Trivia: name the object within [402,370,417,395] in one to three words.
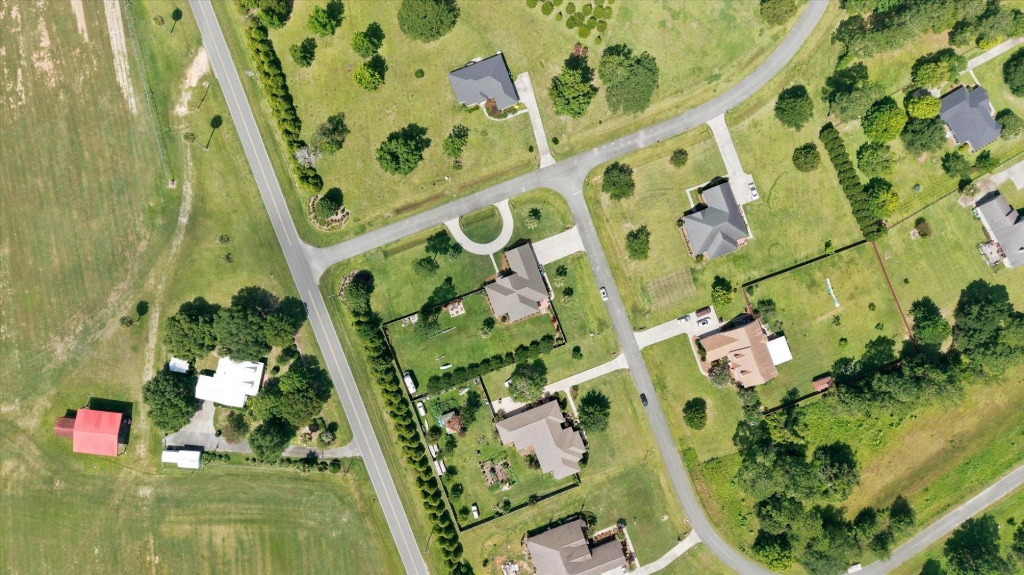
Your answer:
vehicle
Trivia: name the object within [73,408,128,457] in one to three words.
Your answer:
barn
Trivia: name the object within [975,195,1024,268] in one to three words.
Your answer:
house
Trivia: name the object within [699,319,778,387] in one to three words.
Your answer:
house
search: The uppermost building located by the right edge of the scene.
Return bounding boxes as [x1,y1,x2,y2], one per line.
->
[936,86,998,151]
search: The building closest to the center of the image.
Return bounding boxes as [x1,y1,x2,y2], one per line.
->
[485,243,548,322]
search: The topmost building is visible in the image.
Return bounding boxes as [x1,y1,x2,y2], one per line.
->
[449,53,518,110]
